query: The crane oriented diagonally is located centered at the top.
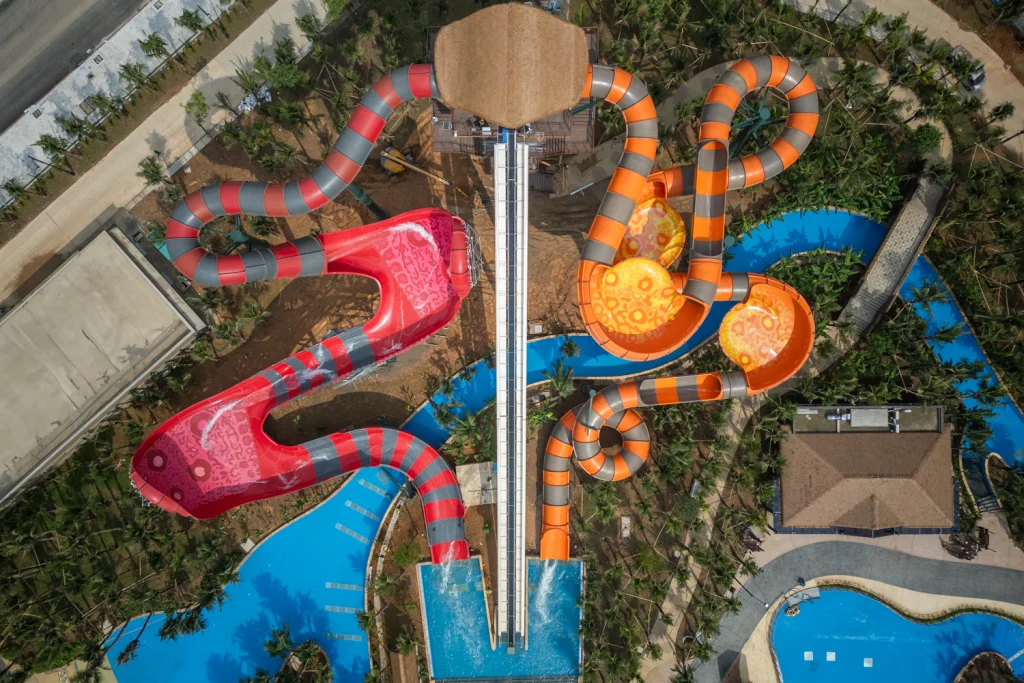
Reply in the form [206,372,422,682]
[383,141,470,198]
